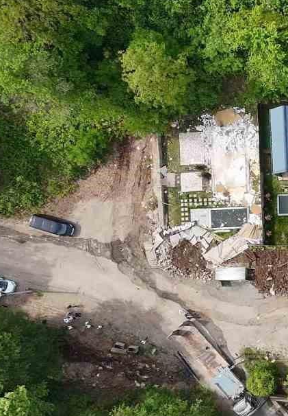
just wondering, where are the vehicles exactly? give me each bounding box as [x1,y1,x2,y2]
[27,212,76,237]
[167,322,260,416]
[0,277,17,294]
